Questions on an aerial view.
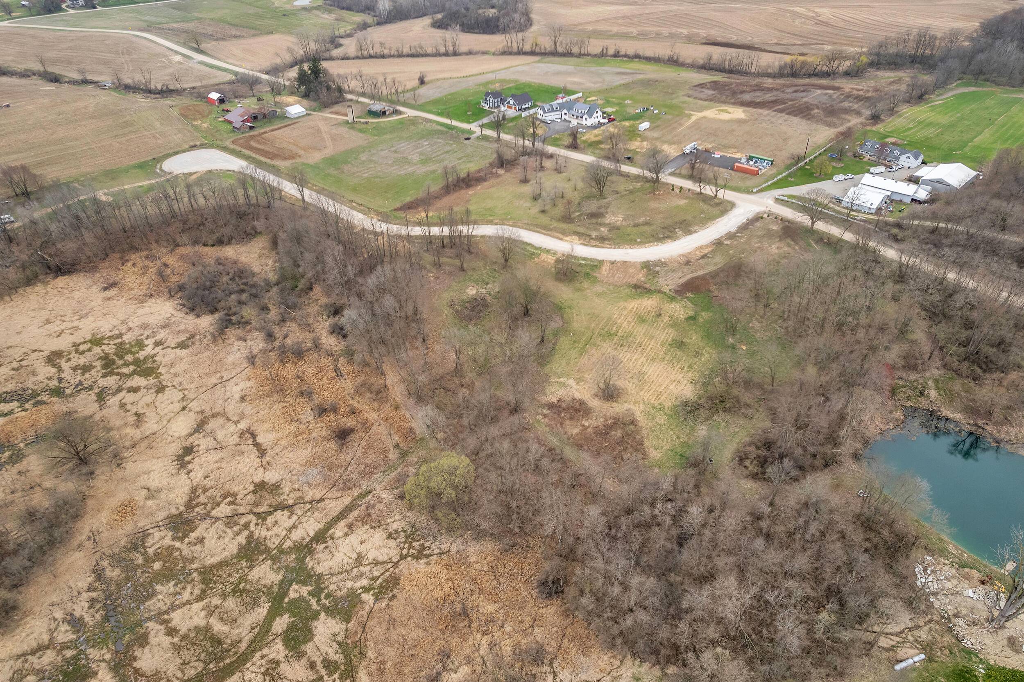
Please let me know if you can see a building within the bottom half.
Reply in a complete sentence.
No, no building can be made out within the bottom half.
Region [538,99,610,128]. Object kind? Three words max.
house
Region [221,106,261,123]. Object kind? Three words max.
barn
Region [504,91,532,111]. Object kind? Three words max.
building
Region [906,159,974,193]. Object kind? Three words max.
shed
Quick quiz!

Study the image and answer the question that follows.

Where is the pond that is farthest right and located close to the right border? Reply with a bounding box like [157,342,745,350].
[859,407,1024,582]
